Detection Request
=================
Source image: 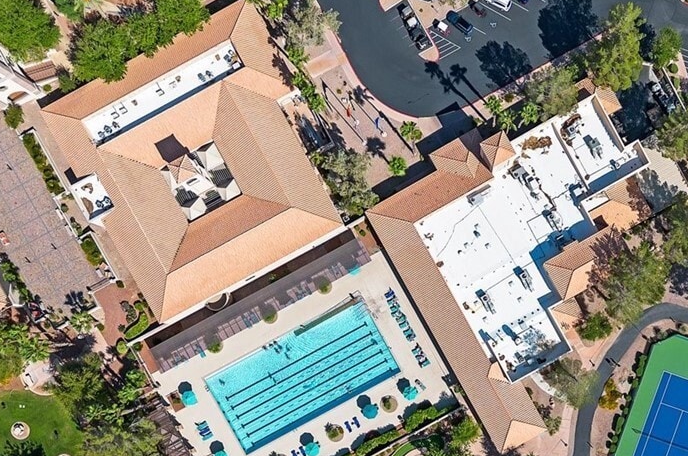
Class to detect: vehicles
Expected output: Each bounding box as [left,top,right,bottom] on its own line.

[470,0,484,18]
[519,0,534,6]
[399,1,414,17]
[437,20,451,38]
[409,25,424,41]
[486,0,513,13]
[649,82,675,111]
[415,38,430,54]
[404,14,419,30]
[447,11,473,36]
